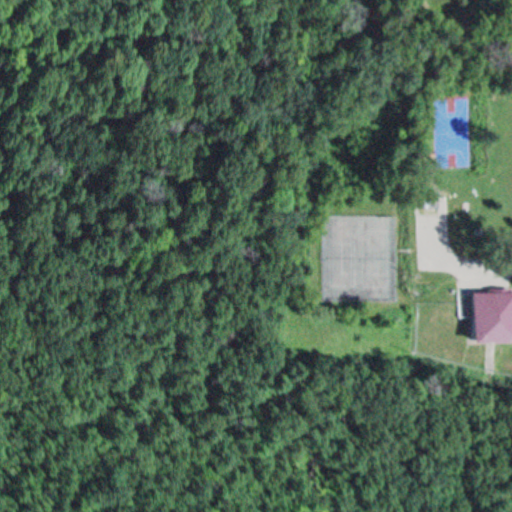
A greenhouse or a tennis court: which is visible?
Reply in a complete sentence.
Looking from above, you can make out a tennis court.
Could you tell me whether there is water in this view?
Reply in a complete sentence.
No, no water is visible.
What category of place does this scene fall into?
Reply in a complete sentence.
This looks like a forest.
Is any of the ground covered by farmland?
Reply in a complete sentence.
No, no farmland is visible.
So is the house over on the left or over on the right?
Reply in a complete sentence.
You can find the house on the right side of the picture.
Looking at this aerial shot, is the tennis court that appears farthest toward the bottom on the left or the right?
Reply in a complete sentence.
The tennis court that appears farthest toward the bottom sits on the right side.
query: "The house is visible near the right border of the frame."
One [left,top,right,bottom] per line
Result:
[474,288,512,342]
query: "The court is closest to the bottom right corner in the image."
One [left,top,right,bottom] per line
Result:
[322,216,397,303]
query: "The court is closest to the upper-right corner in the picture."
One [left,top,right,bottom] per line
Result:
[434,98,470,168]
